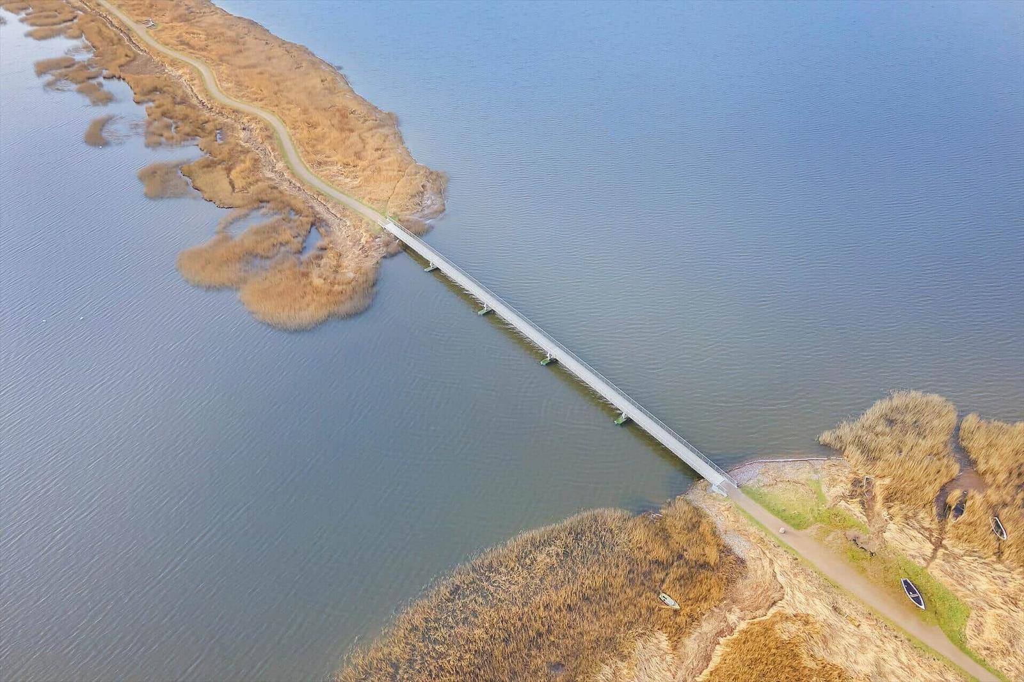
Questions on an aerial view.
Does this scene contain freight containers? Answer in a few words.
No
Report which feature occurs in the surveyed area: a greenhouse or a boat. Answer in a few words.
boat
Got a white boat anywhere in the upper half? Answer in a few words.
No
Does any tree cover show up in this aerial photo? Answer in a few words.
No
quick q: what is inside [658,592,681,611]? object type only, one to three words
boat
